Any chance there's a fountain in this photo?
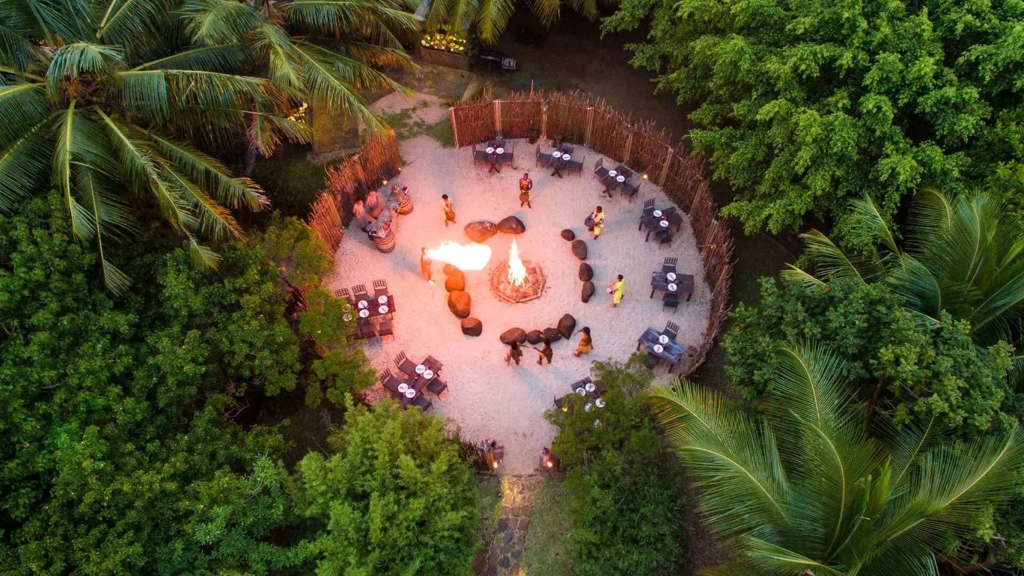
No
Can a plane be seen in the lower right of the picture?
No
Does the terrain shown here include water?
No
